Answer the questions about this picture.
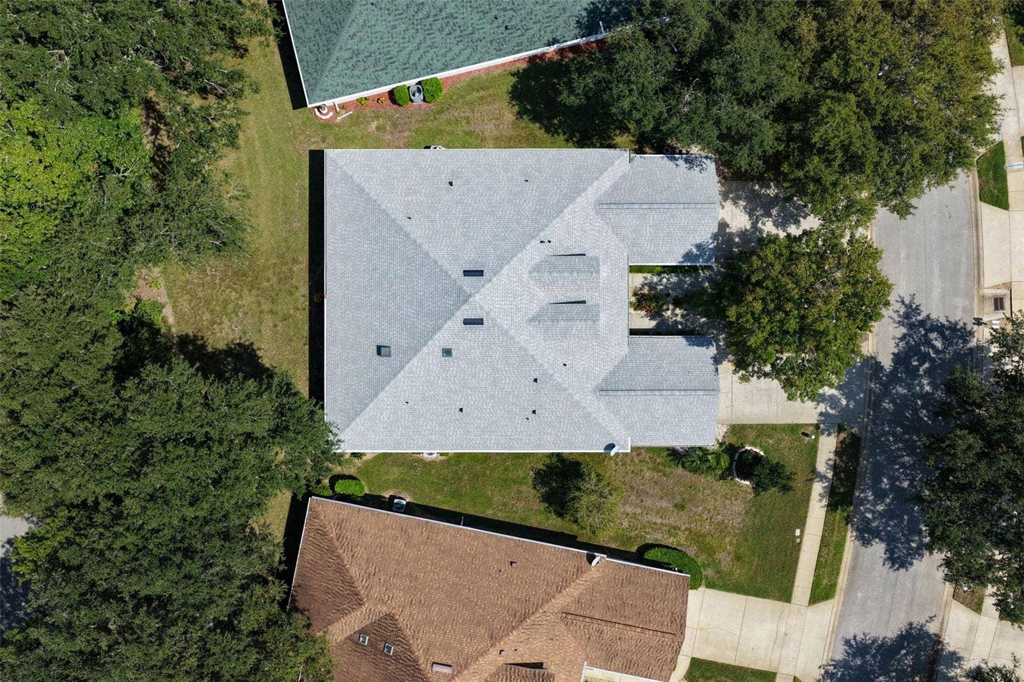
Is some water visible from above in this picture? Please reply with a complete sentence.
No, the scene doesn't show any water.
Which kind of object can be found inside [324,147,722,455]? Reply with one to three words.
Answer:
house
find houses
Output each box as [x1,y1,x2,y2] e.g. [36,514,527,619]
[281,0,686,109]
[277,496,691,682]
[324,147,722,455]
